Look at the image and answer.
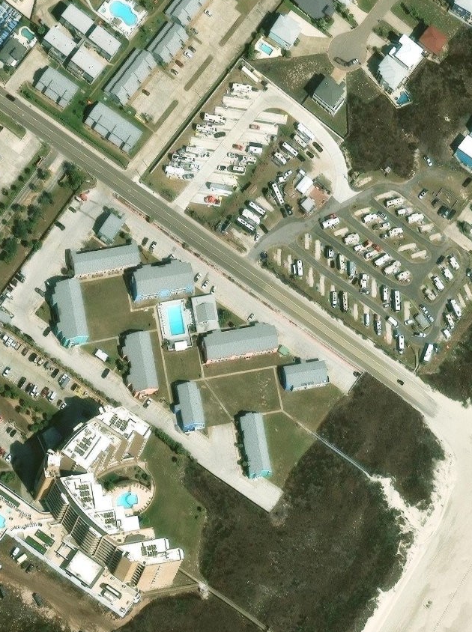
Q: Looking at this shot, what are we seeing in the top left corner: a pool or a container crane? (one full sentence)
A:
Visible in the top left corner is a pool.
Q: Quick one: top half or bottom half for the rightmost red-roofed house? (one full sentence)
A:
The rightmost red-roofed house is in the top half of the image.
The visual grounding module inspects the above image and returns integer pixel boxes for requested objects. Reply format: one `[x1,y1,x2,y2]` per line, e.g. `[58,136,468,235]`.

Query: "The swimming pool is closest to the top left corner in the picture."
[15,26,37,48]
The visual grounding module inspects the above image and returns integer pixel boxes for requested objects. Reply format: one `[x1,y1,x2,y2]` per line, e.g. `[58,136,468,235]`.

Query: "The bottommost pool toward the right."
[391,87,413,108]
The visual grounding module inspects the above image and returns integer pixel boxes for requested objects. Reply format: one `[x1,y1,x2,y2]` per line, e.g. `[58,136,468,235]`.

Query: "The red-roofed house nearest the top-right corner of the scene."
[418,23,449,59]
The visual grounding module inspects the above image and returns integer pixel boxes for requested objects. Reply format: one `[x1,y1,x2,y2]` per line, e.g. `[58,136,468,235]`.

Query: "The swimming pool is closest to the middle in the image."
[157,300,192,348]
